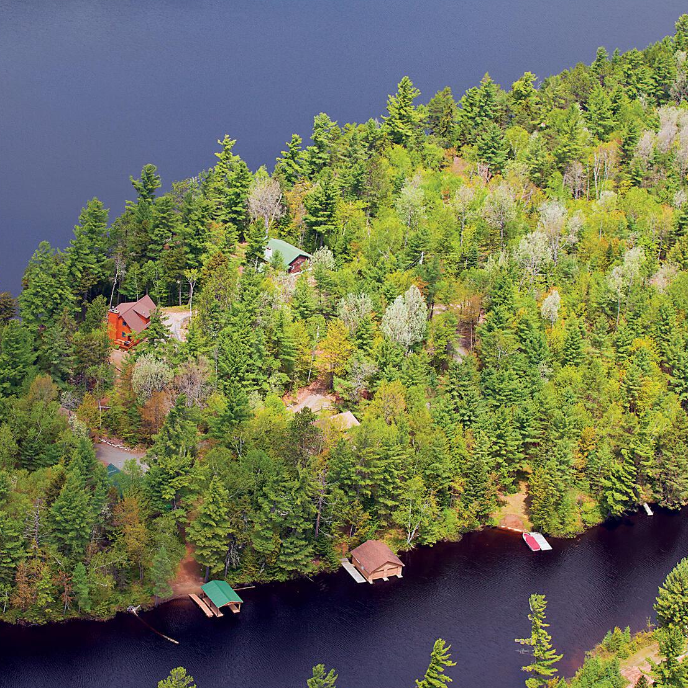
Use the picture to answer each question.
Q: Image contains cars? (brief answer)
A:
No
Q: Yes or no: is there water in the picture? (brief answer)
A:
Yes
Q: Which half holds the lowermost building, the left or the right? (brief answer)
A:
left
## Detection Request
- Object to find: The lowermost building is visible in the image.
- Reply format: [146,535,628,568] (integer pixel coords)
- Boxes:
[202,577,243,618]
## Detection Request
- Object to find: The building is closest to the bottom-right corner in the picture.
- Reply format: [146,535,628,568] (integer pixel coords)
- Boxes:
[350,538,403,581]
